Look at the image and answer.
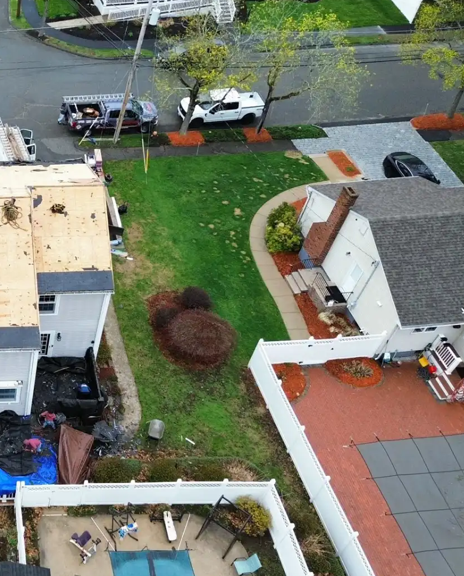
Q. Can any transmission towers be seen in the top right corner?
No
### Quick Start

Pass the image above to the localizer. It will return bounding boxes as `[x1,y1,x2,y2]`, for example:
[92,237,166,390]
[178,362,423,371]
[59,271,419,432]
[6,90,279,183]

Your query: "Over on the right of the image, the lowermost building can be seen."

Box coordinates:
[284,174,464,369]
